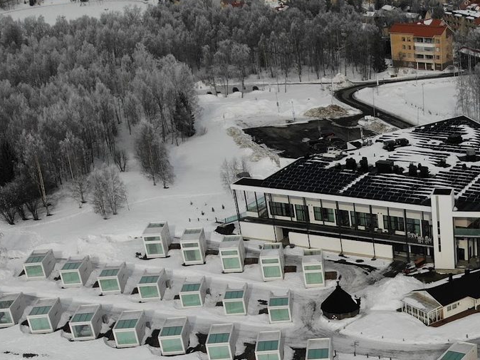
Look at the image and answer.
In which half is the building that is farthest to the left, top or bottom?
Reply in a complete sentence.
You can find the building that is farthest to the left in the bottom half.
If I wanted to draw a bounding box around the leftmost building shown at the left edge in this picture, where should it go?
[0,292,27,331]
